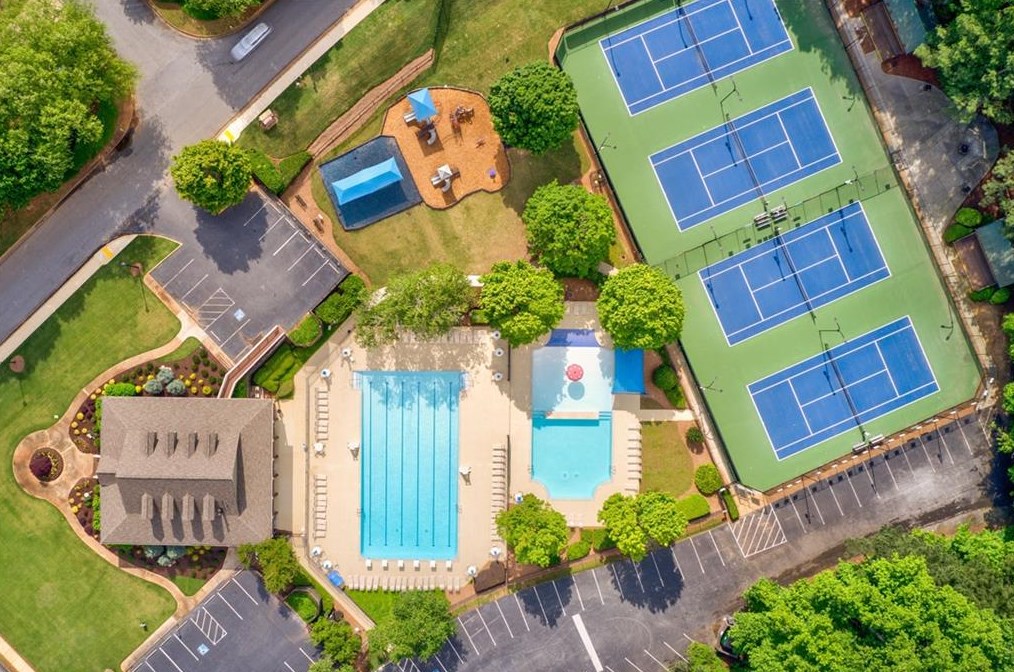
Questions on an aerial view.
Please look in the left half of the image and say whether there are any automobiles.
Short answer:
Yes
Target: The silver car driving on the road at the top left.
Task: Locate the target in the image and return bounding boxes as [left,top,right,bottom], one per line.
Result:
[231,24,269,57]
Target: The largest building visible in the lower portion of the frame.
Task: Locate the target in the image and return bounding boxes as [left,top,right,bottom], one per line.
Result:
[90,397,281,544]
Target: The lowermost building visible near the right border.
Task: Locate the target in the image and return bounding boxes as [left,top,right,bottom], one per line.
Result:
[946,219,1014,292]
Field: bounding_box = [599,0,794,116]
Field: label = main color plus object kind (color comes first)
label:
blue tennis court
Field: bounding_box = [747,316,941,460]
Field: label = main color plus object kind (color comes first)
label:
blue tennis court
